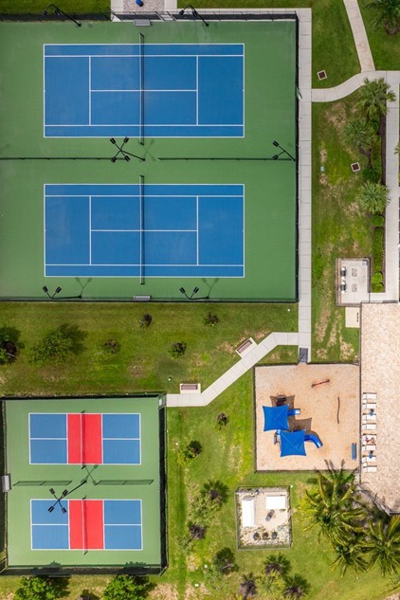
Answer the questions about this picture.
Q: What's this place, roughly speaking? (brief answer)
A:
sports ground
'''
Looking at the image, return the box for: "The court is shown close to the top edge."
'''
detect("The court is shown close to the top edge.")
[0,20,298,159]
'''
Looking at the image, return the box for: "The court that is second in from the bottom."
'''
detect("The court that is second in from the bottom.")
[6,397,161,481]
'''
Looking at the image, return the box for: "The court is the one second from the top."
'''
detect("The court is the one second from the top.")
[0,159,298,301]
